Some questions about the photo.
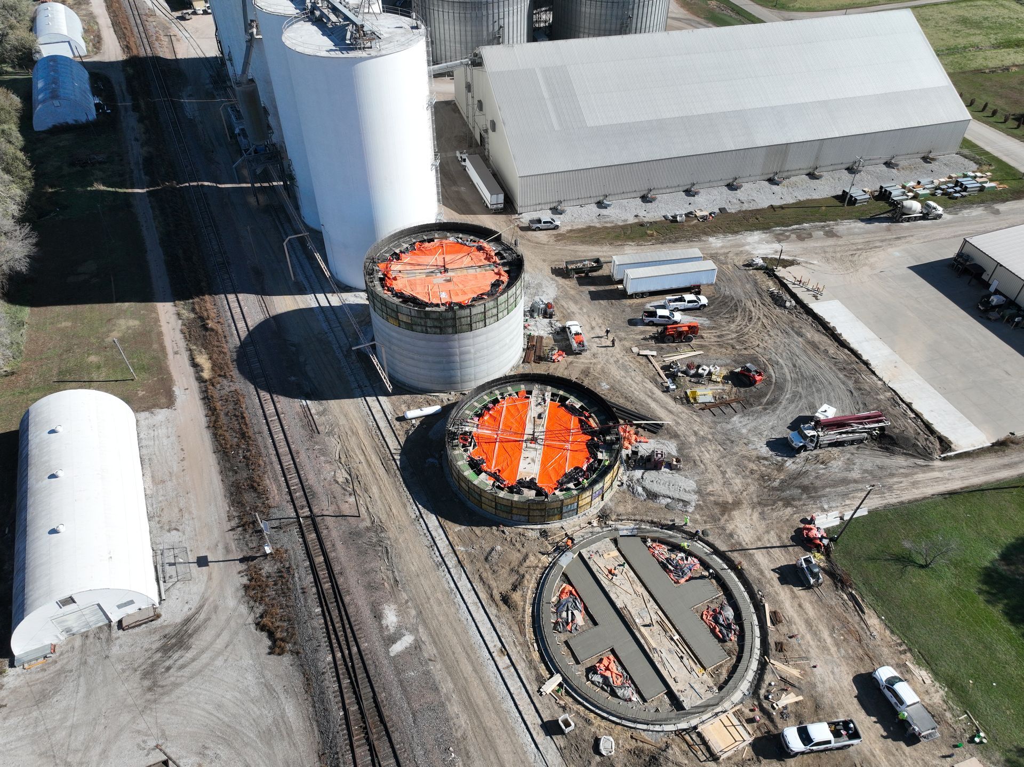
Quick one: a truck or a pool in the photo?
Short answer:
truck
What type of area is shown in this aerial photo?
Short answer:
industrial area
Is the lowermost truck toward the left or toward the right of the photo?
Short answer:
right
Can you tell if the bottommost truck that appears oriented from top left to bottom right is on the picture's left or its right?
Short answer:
right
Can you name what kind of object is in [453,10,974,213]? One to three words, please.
building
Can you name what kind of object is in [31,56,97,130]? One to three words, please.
shed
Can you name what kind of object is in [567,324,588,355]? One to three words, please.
truck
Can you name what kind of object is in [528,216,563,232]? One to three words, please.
vehicle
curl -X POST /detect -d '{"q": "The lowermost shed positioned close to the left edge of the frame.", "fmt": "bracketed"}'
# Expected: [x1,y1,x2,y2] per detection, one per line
[5,394,162,659]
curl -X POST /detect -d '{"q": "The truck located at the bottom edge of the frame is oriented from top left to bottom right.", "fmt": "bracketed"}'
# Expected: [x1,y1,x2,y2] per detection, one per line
[866,661,942,744]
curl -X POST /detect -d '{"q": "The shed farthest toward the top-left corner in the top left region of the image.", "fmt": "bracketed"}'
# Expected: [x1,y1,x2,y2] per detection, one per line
[38,4,99,57]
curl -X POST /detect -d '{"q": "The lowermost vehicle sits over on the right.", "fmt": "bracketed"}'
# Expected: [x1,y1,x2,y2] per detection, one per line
[778,721,861,758]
